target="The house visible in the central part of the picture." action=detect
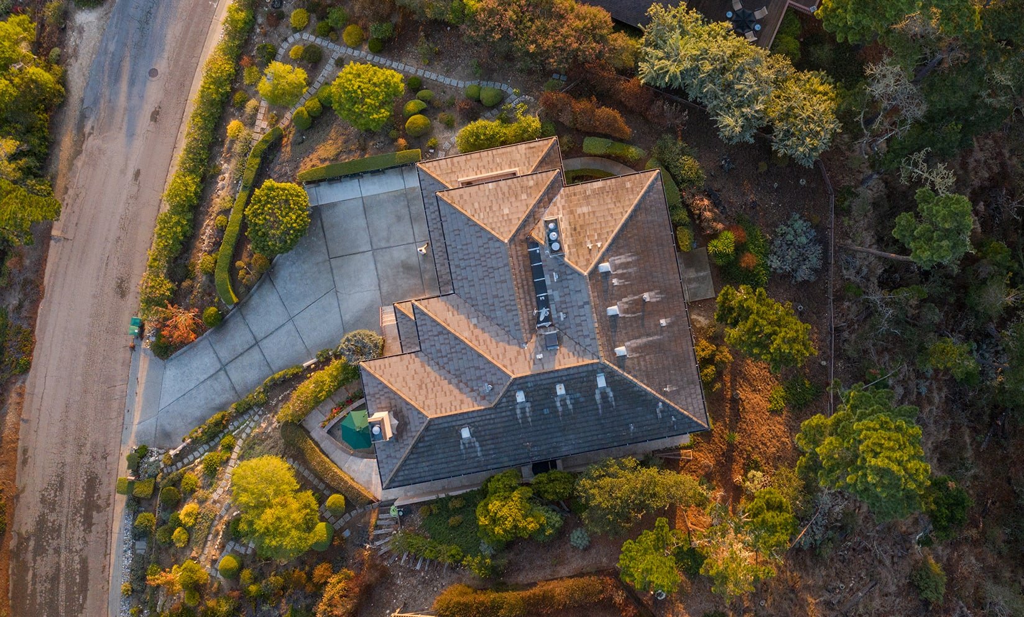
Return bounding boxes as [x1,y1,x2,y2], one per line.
[357,135,711,491]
